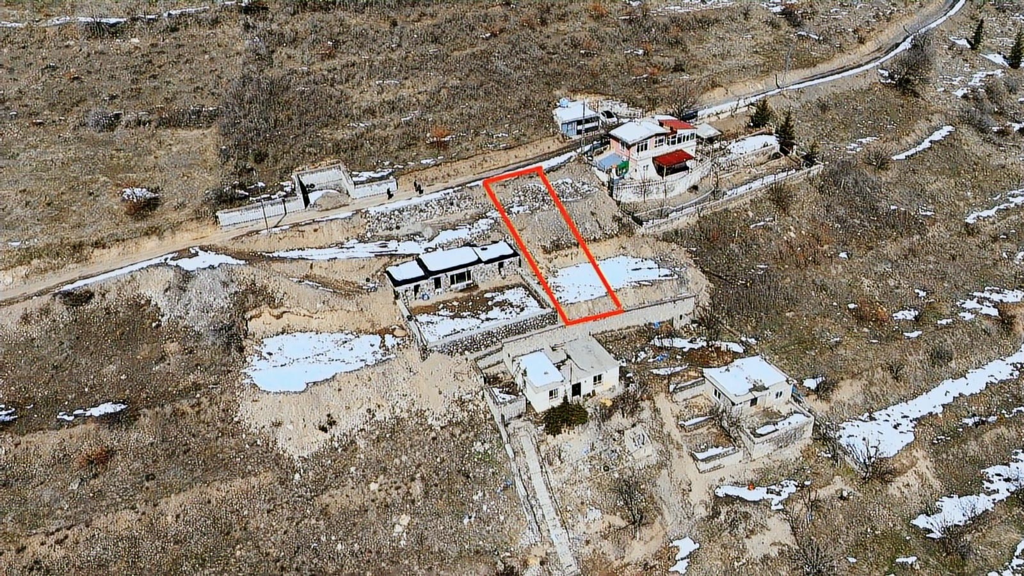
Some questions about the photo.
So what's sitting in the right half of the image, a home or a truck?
home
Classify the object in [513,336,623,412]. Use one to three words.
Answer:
house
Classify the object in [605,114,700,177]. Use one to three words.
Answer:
house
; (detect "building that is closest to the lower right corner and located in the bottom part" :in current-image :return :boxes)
[702,354,794,418]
